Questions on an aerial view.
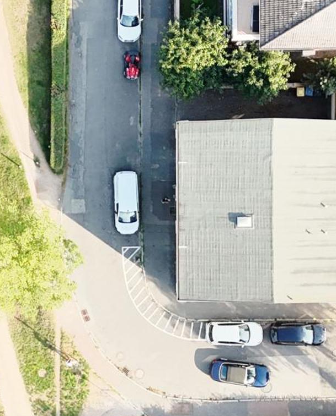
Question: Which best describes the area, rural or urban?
urban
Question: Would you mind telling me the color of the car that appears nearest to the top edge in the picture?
white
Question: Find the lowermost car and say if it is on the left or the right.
right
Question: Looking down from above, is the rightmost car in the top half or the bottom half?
bottom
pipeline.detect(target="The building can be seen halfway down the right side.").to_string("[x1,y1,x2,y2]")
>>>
[172,119,336,304]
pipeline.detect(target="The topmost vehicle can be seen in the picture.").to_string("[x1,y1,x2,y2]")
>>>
[115,0,144,42]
